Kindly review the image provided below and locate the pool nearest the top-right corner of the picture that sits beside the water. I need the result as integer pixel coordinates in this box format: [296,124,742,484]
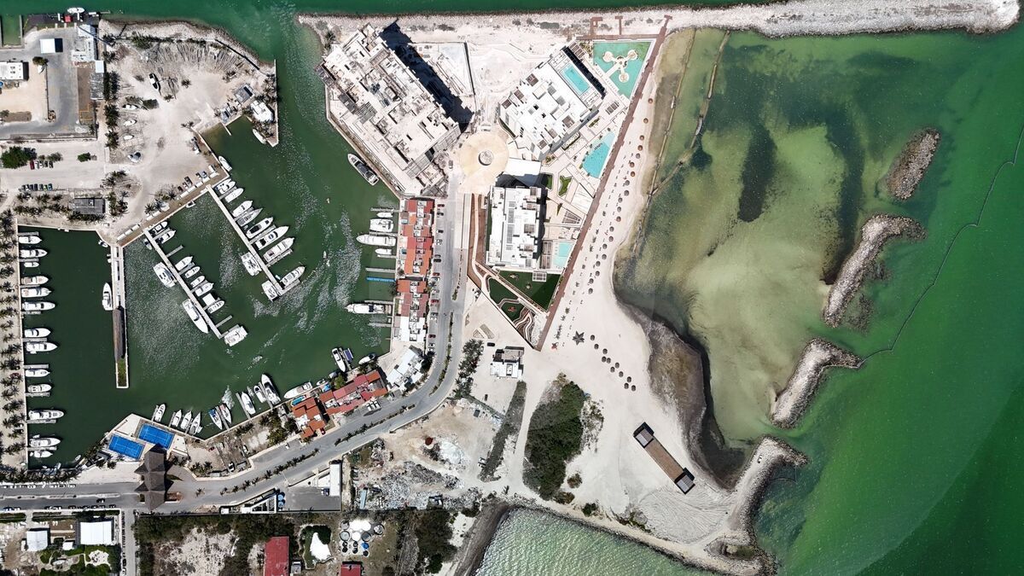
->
[593,40,655,99]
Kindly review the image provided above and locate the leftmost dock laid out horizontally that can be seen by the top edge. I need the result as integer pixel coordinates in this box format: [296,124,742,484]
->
[24,11,111,38]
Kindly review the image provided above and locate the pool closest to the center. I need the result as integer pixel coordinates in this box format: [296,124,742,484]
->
[553,240,576,271]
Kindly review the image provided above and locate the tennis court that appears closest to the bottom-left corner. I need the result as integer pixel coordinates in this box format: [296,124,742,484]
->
[106,435,145,459]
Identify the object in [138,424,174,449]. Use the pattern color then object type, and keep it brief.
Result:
blue tennis court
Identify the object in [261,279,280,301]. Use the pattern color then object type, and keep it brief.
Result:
white boat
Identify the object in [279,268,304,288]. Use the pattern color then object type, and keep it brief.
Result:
white boat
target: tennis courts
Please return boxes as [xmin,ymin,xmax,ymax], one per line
[106,435,145,459]
[138,424,174,449]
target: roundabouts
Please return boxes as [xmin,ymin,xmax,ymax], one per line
[458,131,509,183]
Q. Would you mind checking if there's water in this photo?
Yes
